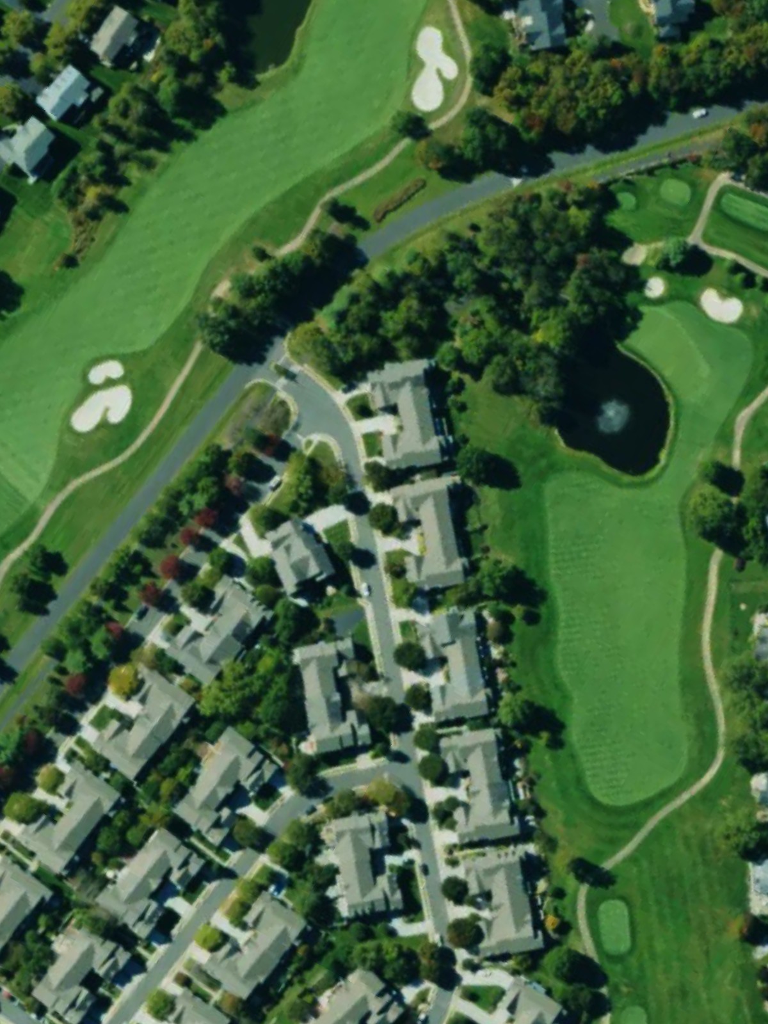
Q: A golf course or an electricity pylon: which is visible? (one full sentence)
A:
Looking from above, you can make out a golf course.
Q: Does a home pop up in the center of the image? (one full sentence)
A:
Yes, the scene does show a home in the center of the image.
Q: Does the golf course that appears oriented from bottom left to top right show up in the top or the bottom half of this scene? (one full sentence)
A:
The top half of the photo is where the golf course that appears oriented from bottom left to top right is.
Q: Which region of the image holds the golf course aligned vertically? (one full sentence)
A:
The golf course aligned vertically appears toward the right of the photo.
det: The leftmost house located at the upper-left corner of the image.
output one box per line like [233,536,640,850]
[0,112,57,170]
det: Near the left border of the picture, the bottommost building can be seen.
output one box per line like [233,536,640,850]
[26,920,135,1024]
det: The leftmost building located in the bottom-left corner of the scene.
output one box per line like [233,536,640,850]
[0,857,52,955]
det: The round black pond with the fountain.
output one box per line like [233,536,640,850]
[545,345,670,475]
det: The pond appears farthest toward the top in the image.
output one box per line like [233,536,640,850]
[226,0,312,77]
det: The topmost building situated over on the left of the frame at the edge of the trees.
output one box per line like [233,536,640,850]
[91,5,160,63]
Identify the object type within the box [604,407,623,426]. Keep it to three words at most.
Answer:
fountain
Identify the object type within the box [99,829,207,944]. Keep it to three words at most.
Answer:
house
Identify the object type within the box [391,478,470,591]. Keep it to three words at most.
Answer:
house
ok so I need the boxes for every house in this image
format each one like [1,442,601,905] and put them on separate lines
[325,811,405,921]
[168,992,228,1024]
[99,829,207,944]
[92,670,198,782]
[314,973,407,1024]
[369,358,450,471]
[499,978,563,1024]
[173,733,281,850]
[18,764,126,876]
[0,112,57,170]
[416,610,495,723]
[463,851,543,960]
[167,577,275,689]
[391,478,470,591]
[26,920,135,1024]
[749,611,768,666]
[440,730,521,842]
[265,516,333,600]
[37,62,110,119]
[509,0,567,44]
[206,892,307,1004]
[750,860,768,916]
[91,5,160,63]
[0,857,52,955]
[292,636,374,754]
